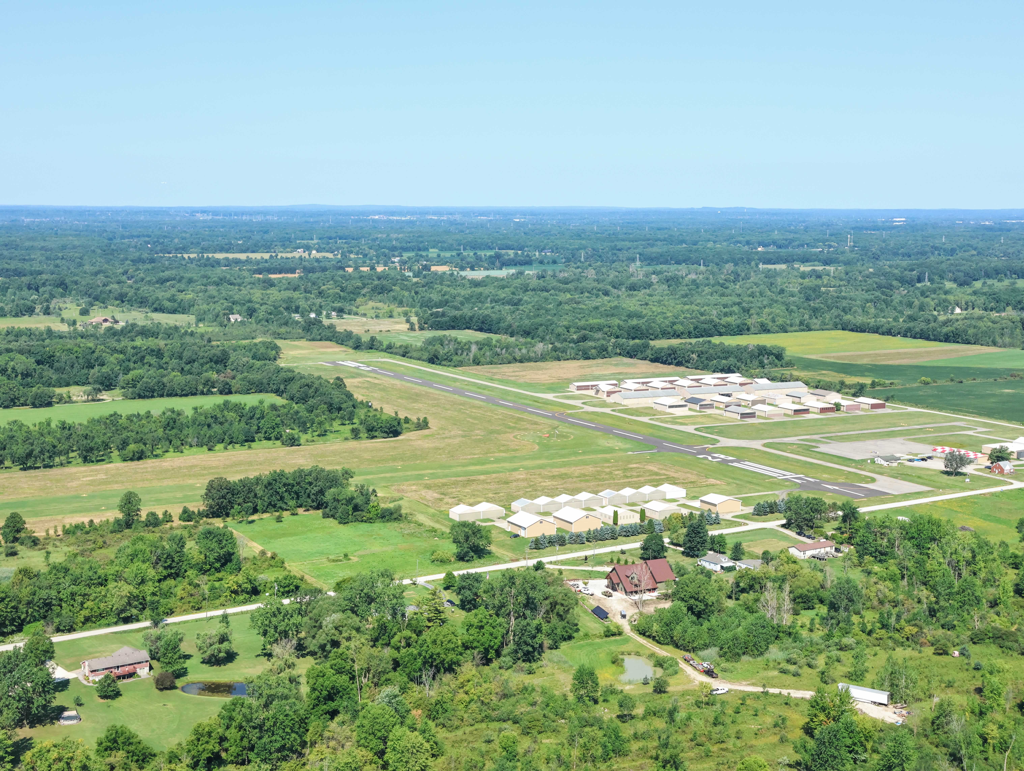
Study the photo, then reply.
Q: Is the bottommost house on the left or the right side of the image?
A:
left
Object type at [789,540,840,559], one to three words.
house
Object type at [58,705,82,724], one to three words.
swimming pool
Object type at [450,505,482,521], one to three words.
hangar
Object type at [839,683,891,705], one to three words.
trailer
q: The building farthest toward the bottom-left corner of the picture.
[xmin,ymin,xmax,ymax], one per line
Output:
[84,642,152,680]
